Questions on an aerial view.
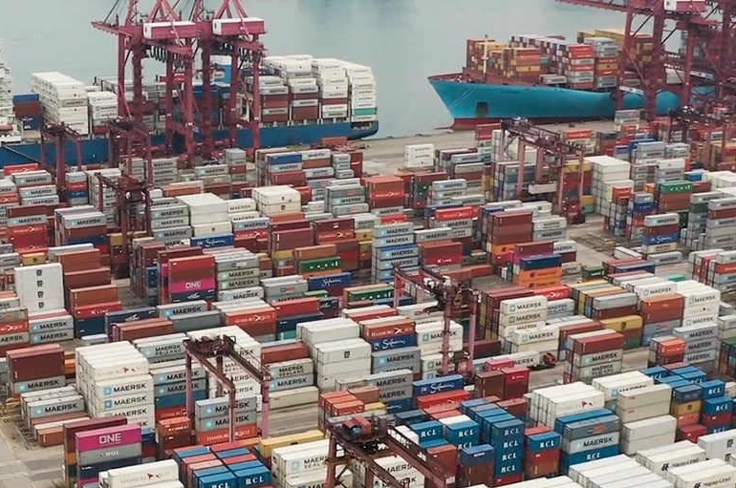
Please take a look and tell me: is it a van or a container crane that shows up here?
container crane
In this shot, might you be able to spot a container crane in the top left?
Yes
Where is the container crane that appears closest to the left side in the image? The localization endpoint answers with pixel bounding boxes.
[63,135,116,203]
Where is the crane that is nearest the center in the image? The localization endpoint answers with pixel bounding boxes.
[382,262,491,370]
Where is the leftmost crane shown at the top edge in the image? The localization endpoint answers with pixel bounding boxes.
[118,0,206,169]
